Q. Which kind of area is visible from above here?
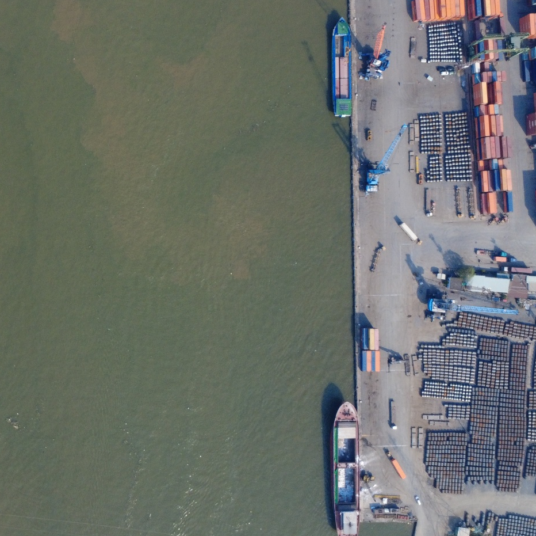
port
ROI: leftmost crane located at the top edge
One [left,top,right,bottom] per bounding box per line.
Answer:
[353,22,392,80]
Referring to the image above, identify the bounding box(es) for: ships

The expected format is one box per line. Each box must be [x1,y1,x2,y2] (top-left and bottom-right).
[331,17,354,118]
[333,400,361,536]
